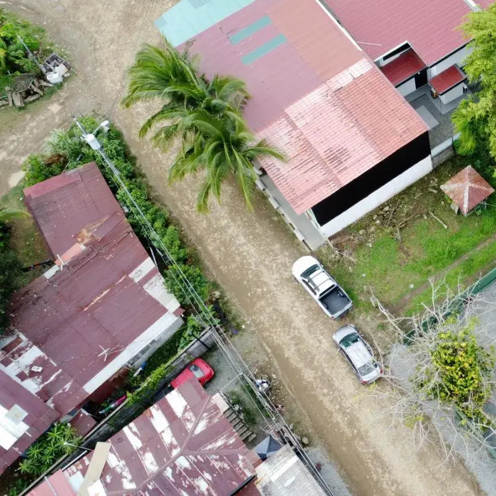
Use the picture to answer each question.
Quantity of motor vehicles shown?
3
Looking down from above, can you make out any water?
No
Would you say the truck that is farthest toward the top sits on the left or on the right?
right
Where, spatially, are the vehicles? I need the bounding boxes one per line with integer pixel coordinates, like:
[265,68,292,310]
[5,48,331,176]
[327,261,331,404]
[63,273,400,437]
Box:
[296,257,355,324]
[334,326,383,385]
[157,357,220,398]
